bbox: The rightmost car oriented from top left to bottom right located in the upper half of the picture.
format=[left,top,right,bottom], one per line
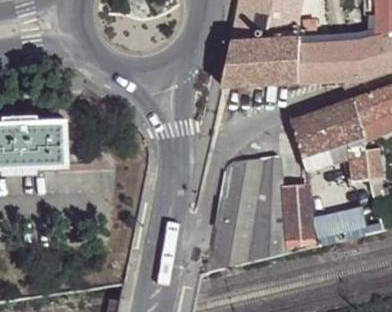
[145,111,164,134]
